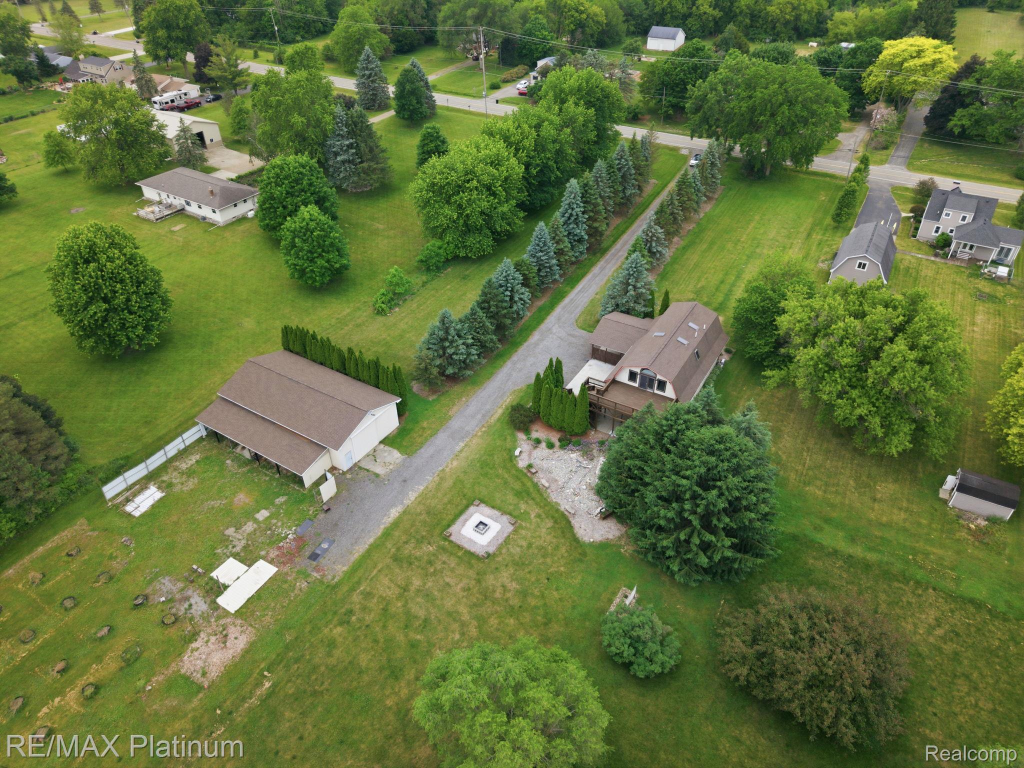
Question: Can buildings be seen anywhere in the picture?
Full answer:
Yes, the image includes a building.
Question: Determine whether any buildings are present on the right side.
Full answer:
Yes, there is a building on the right side.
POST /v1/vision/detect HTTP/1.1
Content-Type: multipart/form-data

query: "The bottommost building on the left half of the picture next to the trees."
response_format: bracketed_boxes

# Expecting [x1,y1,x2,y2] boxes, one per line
[188,353,400,488]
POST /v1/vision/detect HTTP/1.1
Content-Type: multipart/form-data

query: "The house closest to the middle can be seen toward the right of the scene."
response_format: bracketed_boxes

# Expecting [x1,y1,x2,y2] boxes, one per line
[564,301,727,427]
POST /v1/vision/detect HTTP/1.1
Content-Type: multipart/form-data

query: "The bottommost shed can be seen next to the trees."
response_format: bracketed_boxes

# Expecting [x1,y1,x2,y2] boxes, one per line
[950,467,1022,523]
